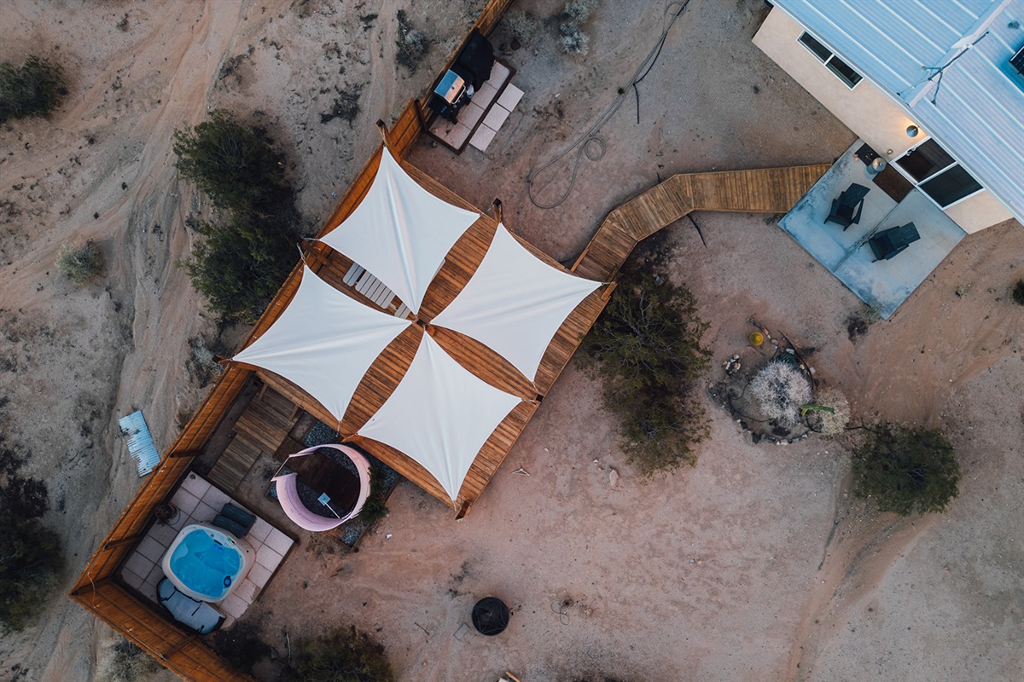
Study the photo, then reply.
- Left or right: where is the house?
right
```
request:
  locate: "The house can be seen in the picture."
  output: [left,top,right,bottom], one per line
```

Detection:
[753,0,1024,233]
